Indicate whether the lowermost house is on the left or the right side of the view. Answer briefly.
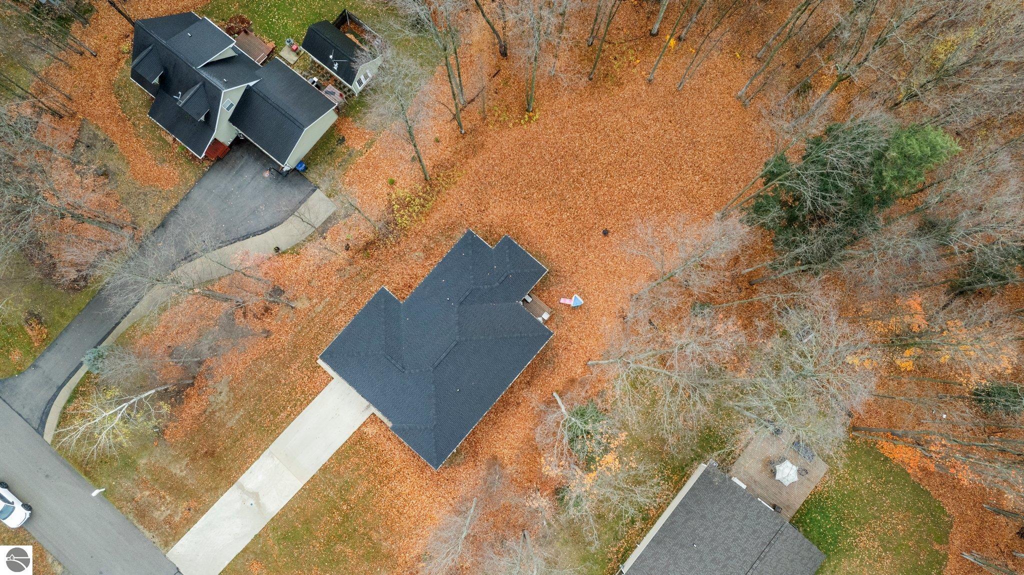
right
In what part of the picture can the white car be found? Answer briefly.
bottom left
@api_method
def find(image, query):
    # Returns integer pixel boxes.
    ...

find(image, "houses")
[617,458,825,575]
[317,227,555,471]
[128,11,340,170]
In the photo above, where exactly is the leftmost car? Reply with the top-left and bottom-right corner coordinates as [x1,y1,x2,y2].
[0,483,32,528]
